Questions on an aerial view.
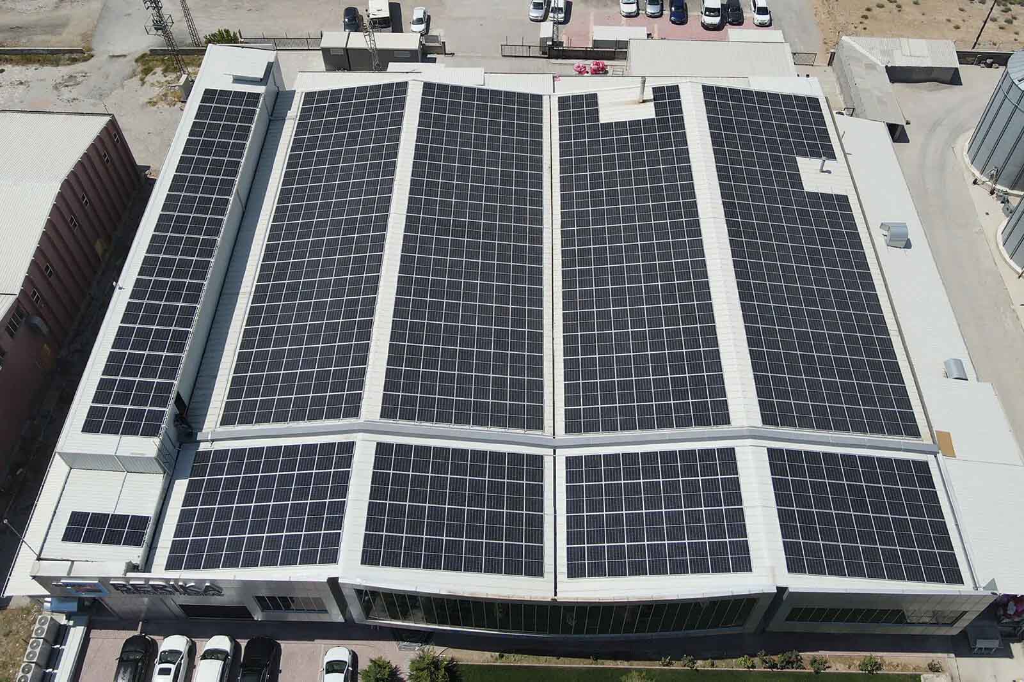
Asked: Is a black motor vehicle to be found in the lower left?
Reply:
Yes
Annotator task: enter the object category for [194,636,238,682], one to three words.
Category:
car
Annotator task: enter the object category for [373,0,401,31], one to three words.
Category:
vehicle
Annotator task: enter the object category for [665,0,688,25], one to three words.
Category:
car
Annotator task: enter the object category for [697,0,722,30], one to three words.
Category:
vehicle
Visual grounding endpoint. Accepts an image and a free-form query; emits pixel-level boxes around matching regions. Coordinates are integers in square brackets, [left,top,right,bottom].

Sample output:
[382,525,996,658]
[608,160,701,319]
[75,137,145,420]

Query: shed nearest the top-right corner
[833,34,959,141]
